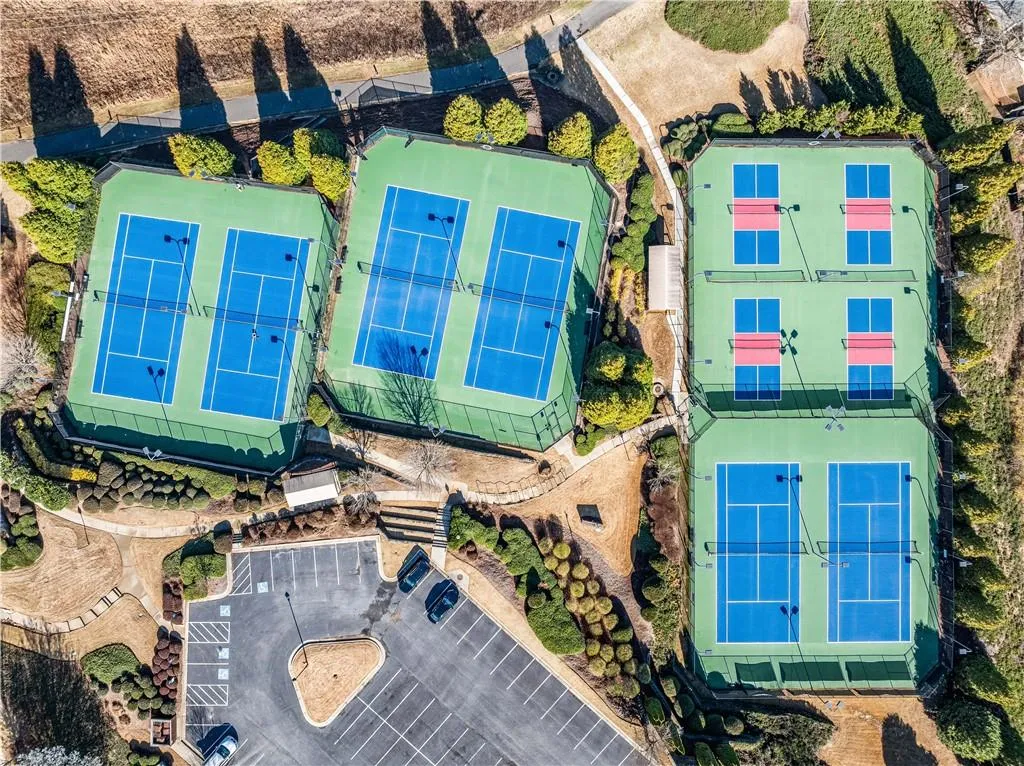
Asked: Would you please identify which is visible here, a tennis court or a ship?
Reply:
tennis court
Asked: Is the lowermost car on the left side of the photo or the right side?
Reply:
left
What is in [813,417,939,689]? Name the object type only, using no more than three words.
tennis court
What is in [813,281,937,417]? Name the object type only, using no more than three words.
sports court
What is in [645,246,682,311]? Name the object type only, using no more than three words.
building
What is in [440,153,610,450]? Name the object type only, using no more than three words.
tennis court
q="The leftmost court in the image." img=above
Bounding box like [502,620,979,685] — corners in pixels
[65,170,221,456]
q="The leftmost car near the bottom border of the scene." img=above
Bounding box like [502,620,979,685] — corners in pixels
[202,734,239,766]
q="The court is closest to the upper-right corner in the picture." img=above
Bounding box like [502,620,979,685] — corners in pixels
[813,147,936,281]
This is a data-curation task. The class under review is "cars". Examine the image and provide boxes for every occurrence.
[426,585,461,623]
[397,555,433,593]
[202,734,239,766]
